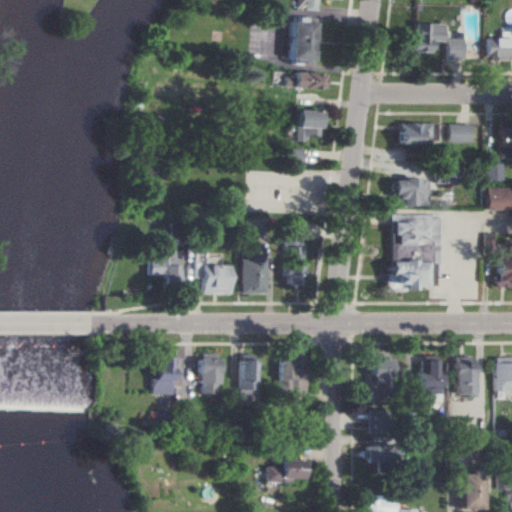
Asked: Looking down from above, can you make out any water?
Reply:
Yes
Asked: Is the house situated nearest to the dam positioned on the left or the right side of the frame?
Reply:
left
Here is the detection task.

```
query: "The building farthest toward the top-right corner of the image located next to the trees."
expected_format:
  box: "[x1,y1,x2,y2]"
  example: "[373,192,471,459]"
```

[484,30,512,62]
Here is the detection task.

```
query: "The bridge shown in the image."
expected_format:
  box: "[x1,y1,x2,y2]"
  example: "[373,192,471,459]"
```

[0,311,93,336]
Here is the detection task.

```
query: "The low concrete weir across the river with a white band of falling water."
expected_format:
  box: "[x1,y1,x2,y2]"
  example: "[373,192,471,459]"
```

[0,384,94,414]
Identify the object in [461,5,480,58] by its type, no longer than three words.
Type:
swimming pool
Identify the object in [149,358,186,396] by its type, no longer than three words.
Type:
house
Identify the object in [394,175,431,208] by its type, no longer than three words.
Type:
house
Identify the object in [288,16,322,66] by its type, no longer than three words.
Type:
building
